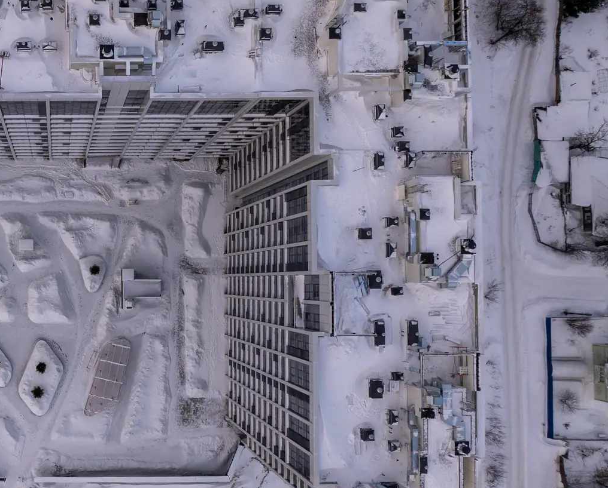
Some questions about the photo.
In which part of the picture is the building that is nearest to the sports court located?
left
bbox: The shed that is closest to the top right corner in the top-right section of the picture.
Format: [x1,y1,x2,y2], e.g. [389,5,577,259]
[555,71,591,101]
